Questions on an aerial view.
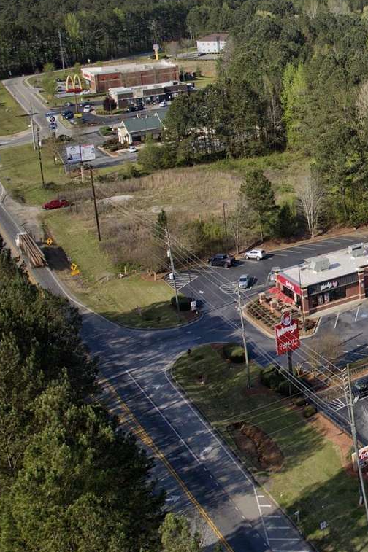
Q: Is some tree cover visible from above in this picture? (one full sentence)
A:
Yes, there's tree cover in this view.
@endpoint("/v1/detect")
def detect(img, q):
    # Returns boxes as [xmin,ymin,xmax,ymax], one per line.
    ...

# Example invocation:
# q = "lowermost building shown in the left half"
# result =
[111,113,165,141]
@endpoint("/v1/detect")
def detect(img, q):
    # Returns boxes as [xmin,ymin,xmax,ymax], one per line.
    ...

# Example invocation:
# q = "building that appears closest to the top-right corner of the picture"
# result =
[195,35,225,53]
